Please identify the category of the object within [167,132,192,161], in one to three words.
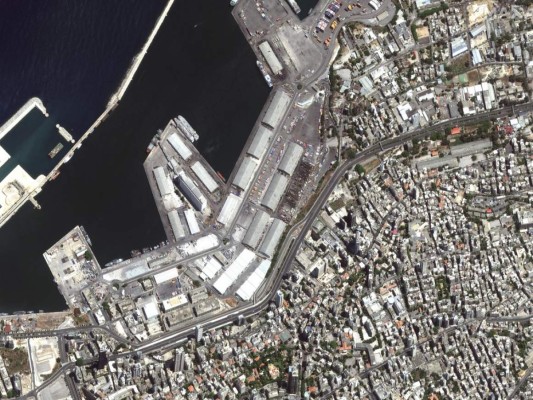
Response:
building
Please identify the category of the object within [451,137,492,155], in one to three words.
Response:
shed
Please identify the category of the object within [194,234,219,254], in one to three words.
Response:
building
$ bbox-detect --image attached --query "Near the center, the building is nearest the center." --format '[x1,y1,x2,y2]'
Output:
[261,171,289,213]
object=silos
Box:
[180,167,213,215]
